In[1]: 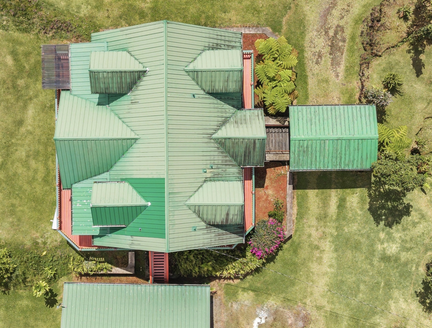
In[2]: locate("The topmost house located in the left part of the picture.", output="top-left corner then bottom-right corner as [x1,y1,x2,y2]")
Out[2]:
[42,20,268,285]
